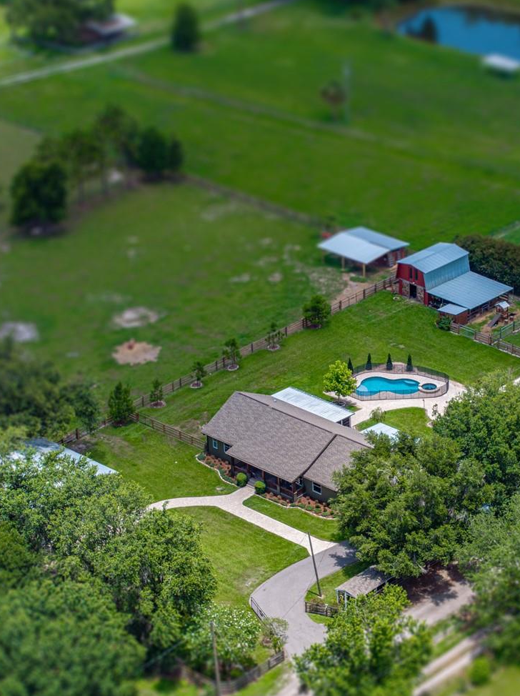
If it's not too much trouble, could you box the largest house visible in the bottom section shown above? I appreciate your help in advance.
[202,388,386,513]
